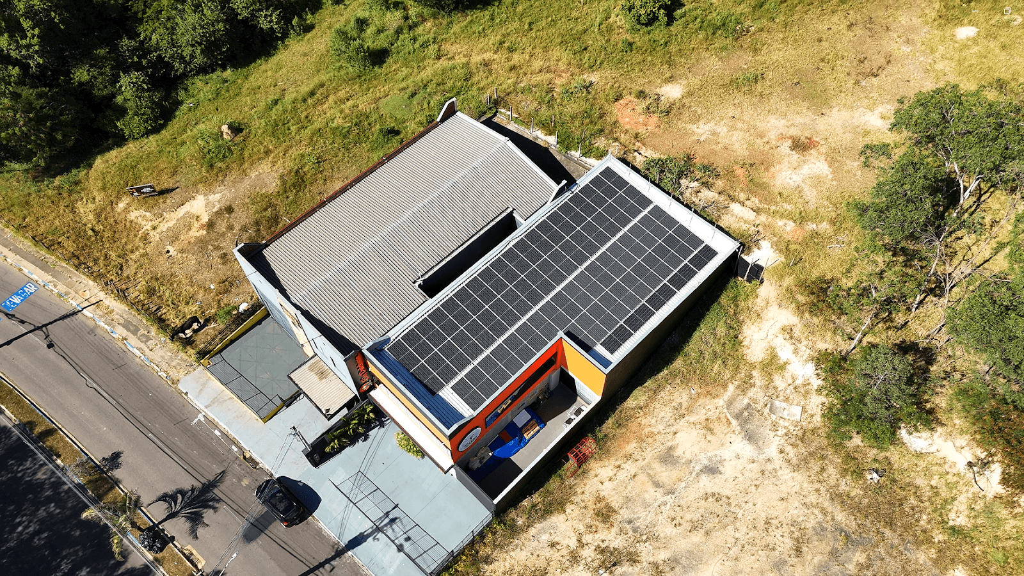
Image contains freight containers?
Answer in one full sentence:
No, there appears to be no freight container in this shot.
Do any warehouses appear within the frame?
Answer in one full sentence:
Yes, this view includes a warehouse.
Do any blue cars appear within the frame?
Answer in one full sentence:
No, the photo shows no blue car.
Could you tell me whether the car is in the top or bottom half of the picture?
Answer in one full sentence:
The car sits in the bottom half of the picture.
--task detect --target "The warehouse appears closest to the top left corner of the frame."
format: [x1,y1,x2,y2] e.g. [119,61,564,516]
[233,95,569,405]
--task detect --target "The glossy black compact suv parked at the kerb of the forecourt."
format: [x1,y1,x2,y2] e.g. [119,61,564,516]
[253,479,309,535]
